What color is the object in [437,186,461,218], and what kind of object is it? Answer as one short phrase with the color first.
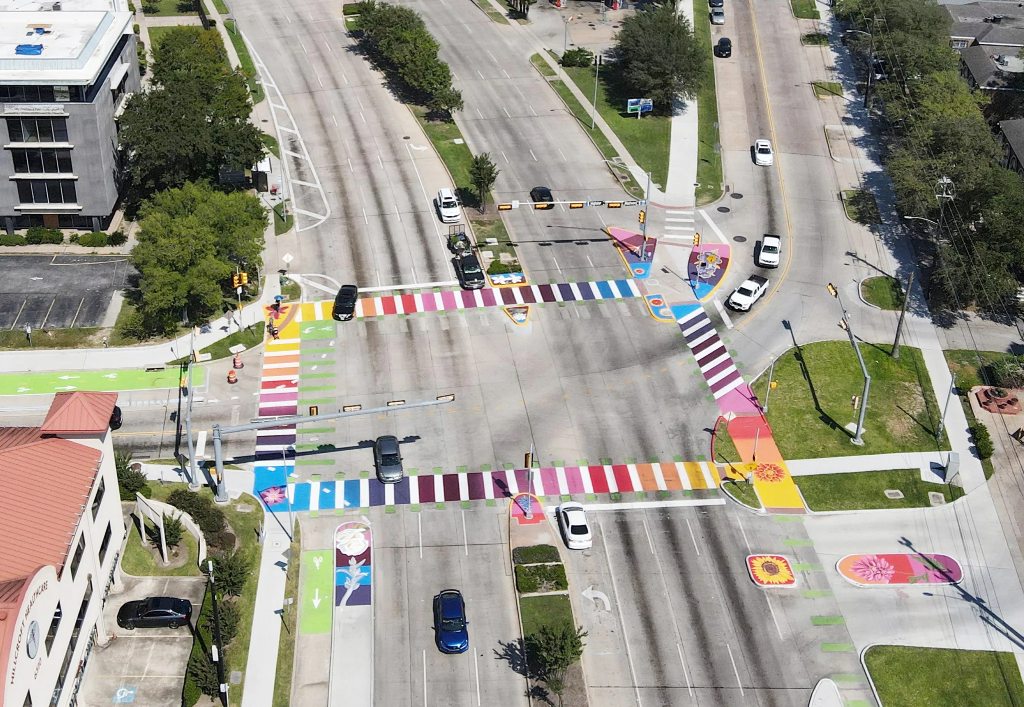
white car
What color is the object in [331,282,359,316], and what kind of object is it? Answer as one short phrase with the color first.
black car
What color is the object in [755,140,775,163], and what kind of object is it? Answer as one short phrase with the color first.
white car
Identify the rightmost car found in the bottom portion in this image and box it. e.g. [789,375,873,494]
[556,493,594,545]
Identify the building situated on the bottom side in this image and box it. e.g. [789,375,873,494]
[0,389,130,707]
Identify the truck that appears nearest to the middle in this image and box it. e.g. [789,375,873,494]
[456,247,484,284]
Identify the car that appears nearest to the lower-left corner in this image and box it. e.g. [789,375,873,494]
[118,593,195,628]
